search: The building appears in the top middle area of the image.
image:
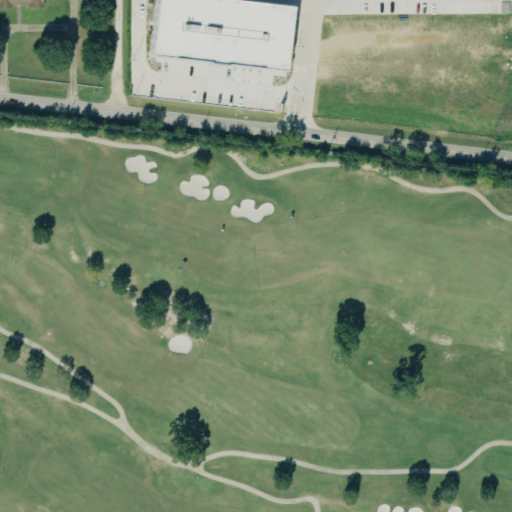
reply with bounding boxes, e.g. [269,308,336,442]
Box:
[153,0,298,72]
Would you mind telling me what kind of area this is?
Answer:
golf course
